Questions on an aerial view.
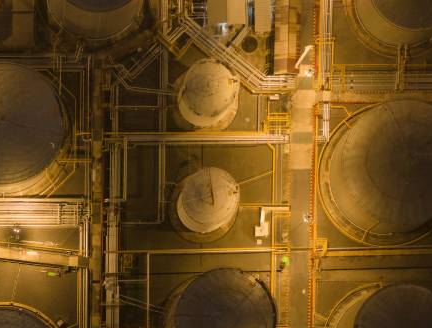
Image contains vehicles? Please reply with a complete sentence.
No, there's no vehicle here.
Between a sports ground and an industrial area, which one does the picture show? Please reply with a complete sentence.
This image shows an industrial area.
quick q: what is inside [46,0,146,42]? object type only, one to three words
storage tank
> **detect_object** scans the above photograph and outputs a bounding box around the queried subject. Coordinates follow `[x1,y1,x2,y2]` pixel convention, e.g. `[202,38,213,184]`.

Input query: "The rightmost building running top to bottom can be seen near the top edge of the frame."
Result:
[271,0,300,79]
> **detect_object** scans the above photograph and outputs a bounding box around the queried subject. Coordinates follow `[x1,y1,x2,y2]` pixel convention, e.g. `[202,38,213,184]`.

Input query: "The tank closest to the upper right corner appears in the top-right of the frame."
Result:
[345,0,432,59]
